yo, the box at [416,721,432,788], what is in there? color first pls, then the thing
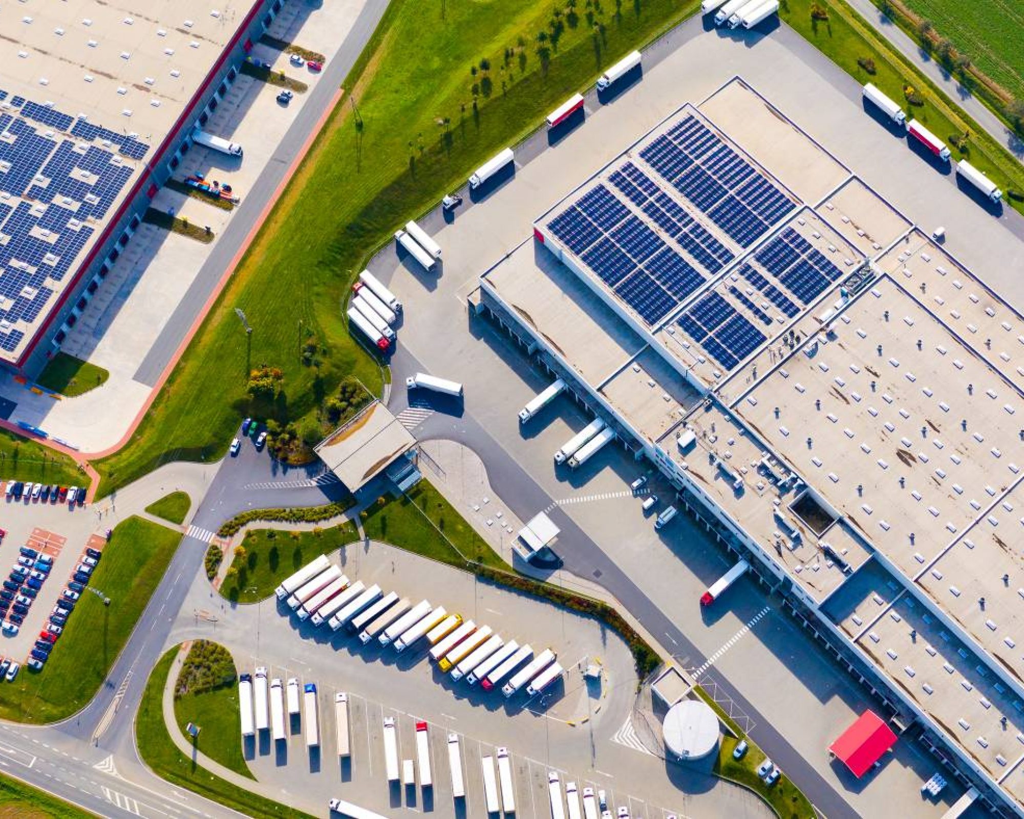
white vehicle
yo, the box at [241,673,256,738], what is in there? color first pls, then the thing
white vehicle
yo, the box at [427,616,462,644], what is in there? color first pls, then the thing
white truck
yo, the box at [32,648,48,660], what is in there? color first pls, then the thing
blue vehicle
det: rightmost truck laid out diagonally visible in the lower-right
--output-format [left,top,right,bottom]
[935,787,978,819]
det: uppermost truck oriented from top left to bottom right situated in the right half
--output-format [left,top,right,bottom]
[861,83,906,128]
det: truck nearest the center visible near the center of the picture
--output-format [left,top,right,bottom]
[518,380,566,426]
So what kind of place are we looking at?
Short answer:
industrial area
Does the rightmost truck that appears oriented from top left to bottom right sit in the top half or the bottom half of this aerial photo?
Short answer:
top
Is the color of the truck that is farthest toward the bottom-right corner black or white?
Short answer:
white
